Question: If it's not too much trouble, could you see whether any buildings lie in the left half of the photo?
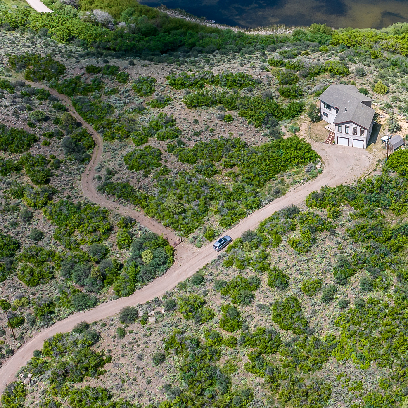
No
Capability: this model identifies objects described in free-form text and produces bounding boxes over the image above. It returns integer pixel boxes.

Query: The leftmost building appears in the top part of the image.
[316,84,378,149]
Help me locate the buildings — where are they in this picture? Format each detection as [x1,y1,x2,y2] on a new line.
[316,84,378,149]
[385,133,407,151]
